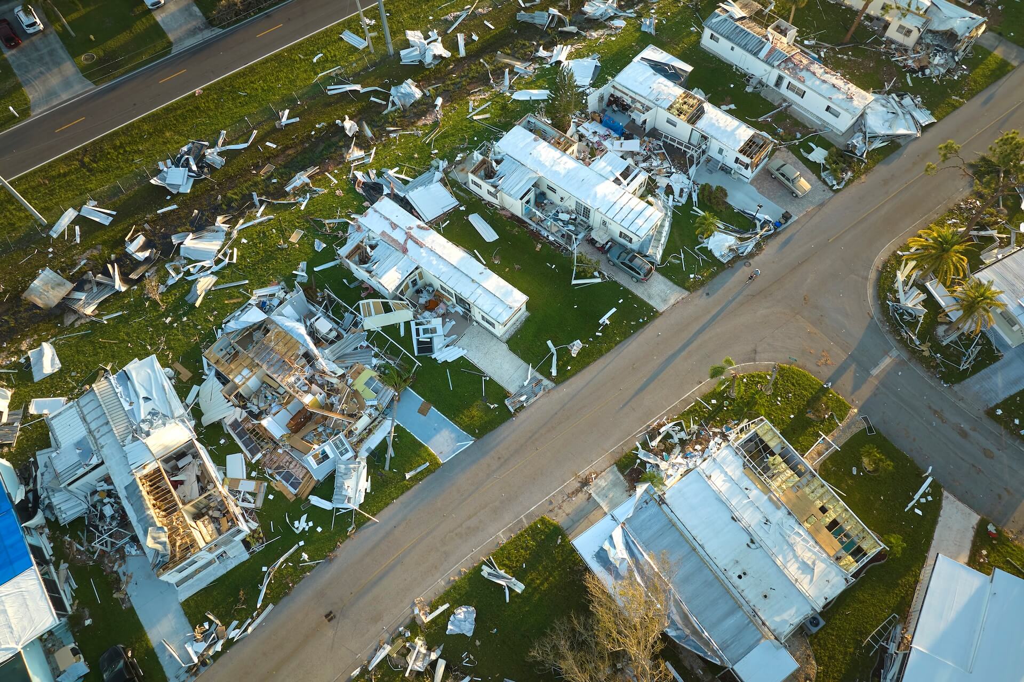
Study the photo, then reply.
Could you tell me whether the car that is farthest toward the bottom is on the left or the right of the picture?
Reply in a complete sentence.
The car that is farthest toward the bottom sits on the left side.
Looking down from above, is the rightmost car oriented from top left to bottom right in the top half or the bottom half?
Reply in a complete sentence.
The rightmost car oriented from top left to bottom right sits in the top half of the picture.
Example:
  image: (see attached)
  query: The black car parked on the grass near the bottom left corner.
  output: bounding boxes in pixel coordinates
[93,633,152,682]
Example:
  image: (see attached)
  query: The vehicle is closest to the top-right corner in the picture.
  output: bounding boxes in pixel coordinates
[764,159,813,200]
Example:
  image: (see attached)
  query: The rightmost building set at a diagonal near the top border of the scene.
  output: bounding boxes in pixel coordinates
[697,0,876,134]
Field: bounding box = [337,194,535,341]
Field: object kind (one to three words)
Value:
house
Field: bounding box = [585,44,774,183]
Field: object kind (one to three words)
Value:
house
